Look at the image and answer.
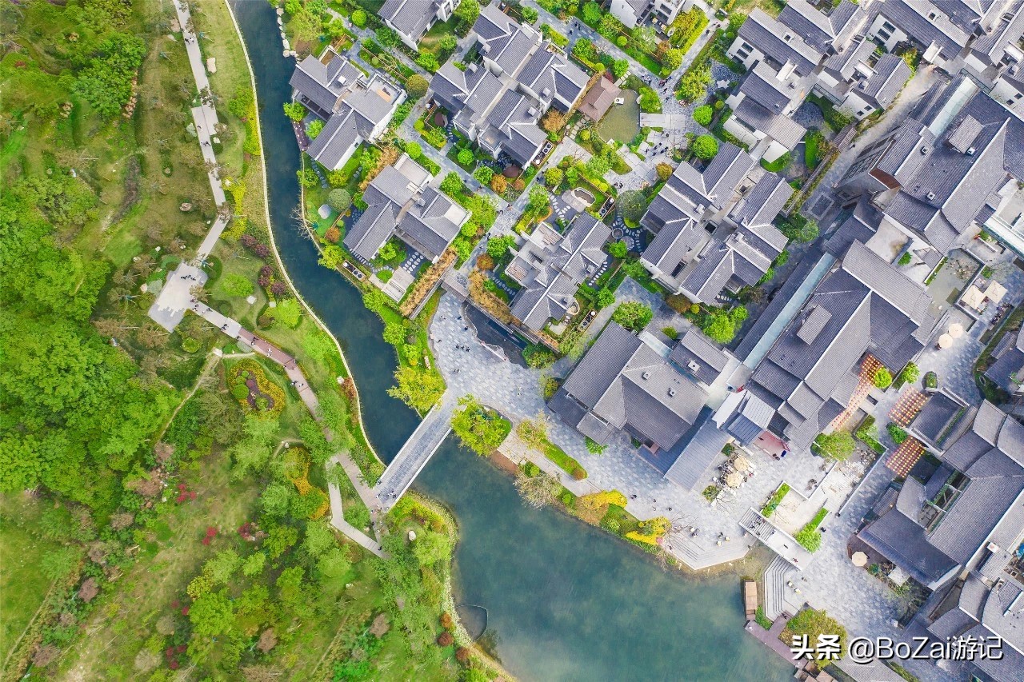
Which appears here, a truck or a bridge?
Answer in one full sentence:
This aerial view contains a bridge.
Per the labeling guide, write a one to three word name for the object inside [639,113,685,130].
bridge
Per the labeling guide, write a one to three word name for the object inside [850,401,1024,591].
building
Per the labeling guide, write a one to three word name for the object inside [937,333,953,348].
umbrella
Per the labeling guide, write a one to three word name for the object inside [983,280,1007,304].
umbrella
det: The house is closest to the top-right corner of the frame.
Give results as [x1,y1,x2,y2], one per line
[867,0,1024,98]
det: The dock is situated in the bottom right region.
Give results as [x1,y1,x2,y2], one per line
[745,611,805,668]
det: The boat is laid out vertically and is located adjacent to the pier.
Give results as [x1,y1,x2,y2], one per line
[743,575,757,620]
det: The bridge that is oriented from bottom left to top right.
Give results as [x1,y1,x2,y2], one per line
[372,397,455,512]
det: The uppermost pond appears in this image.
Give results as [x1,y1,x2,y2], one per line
[596,90,640,147]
